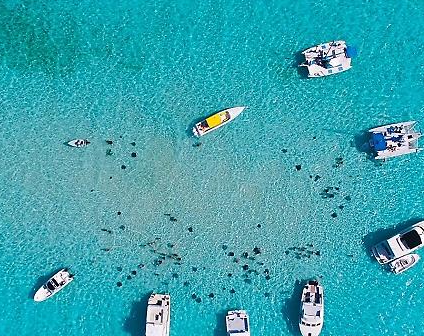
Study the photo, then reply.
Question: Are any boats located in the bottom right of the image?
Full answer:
Yes, the scene does show a boat in the bottom right of the image.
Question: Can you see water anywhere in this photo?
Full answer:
Yes, there is water in the image.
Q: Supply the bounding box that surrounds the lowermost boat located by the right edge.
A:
[388,256,420,274]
